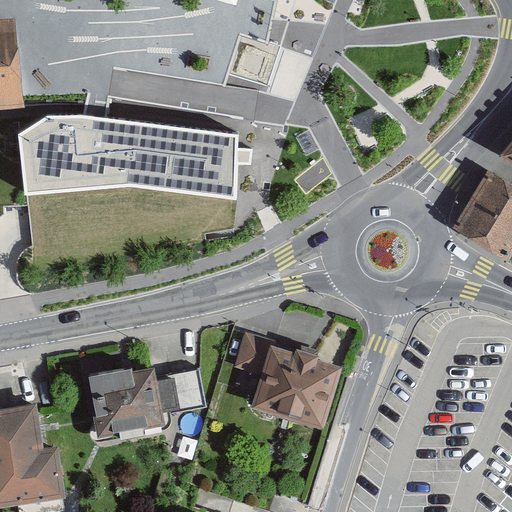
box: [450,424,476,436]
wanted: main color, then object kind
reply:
white vehicle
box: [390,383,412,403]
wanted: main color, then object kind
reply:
white car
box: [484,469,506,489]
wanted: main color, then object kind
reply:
white car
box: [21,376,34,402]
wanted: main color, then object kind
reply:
white vehicle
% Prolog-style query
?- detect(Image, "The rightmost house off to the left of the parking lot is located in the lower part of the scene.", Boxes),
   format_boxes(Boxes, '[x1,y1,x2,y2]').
[236,333,342,429]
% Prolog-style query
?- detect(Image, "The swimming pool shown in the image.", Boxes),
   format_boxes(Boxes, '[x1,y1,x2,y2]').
[179,412,202,436]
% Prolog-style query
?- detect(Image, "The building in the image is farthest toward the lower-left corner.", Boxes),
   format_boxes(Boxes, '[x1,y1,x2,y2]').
[0,404,66,508]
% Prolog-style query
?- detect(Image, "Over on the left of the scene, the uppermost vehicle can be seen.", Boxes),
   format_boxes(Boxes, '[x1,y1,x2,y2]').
[58,311,82,324]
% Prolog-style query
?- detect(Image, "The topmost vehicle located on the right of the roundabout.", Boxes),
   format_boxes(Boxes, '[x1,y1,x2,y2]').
[445,239,470,261]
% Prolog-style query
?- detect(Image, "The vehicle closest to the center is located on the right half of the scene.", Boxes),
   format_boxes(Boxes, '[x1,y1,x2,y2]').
[306,230,330,248]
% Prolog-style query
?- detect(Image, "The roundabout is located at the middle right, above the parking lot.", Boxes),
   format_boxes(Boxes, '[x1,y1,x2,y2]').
[356,218,420,282]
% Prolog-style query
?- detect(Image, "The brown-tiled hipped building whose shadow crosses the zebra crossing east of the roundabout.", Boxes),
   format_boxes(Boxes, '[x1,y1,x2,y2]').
[453,170,512,264]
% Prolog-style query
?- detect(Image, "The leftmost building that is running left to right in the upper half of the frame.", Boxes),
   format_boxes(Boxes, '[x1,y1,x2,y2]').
[17,115,252,200]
